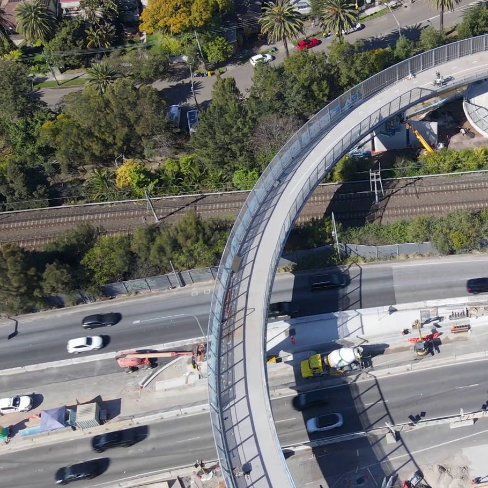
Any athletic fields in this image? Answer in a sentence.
No, I find no athletic field anywhere in the image.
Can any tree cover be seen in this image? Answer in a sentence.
Yes, the picture does contain tree cover.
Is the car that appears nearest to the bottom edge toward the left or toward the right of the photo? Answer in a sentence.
The car that appears nearest to the bottom edge appears in the left half of the scene.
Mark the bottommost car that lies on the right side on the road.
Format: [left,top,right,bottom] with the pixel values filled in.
[305,413,345,436]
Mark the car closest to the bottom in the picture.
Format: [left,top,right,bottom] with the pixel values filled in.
[55,459,102,485]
